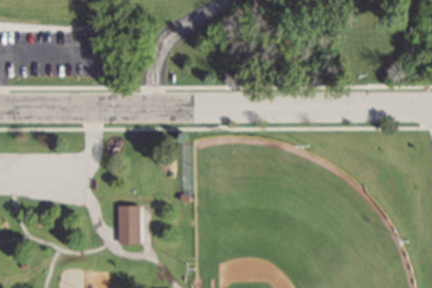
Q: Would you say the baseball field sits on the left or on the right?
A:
right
